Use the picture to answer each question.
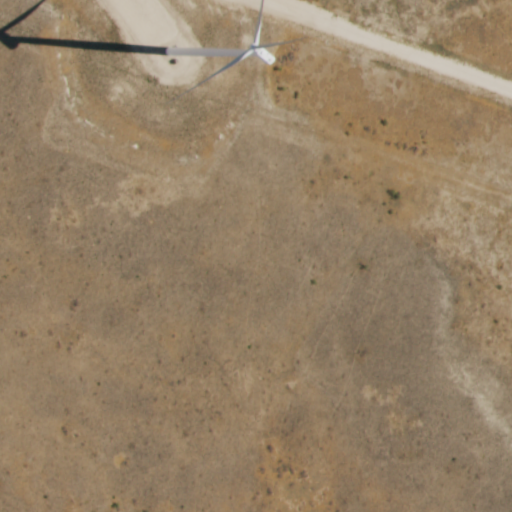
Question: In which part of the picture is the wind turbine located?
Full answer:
Look in the top portion of the view to spot the wind turbine.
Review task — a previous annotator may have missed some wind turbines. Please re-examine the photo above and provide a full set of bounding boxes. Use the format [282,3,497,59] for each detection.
[164,0,306,103]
